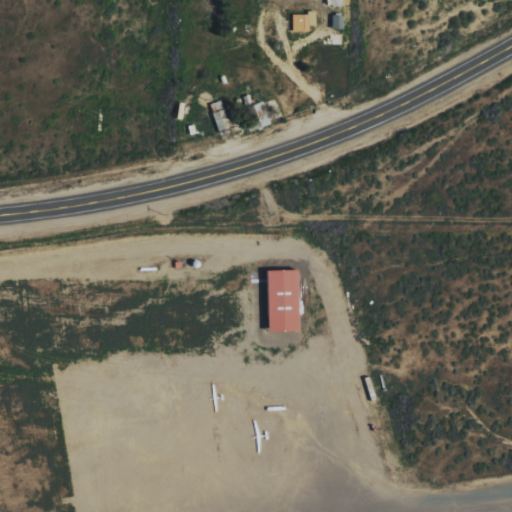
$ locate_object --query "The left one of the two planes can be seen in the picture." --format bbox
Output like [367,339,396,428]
[211,384,225,414]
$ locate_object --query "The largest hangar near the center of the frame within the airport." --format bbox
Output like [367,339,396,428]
[268,270,302,332]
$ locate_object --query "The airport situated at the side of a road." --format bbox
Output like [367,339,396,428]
[0,234,512,512]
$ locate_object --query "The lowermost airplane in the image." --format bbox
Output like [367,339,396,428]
[252,420,270,454]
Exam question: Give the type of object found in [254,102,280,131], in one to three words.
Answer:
house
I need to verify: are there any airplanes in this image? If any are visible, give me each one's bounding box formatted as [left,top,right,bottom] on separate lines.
[211,384,225,414]
[252,420,270,454]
